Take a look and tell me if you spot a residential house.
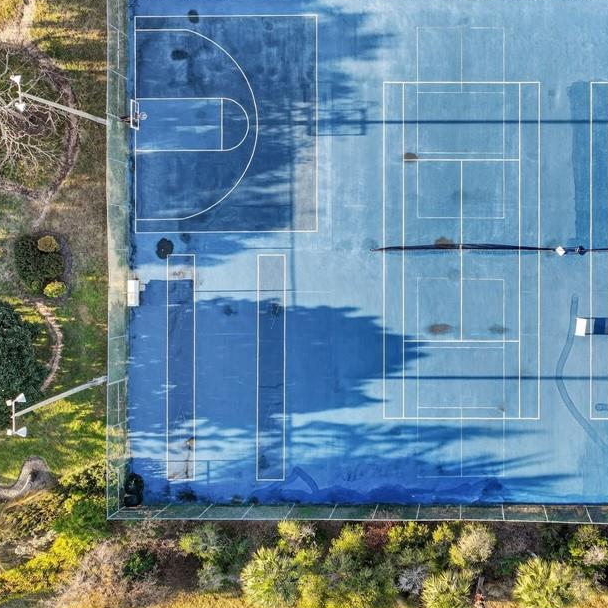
No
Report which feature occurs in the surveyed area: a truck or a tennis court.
tennis court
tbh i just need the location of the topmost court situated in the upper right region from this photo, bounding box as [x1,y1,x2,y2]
[417,27,505,218]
